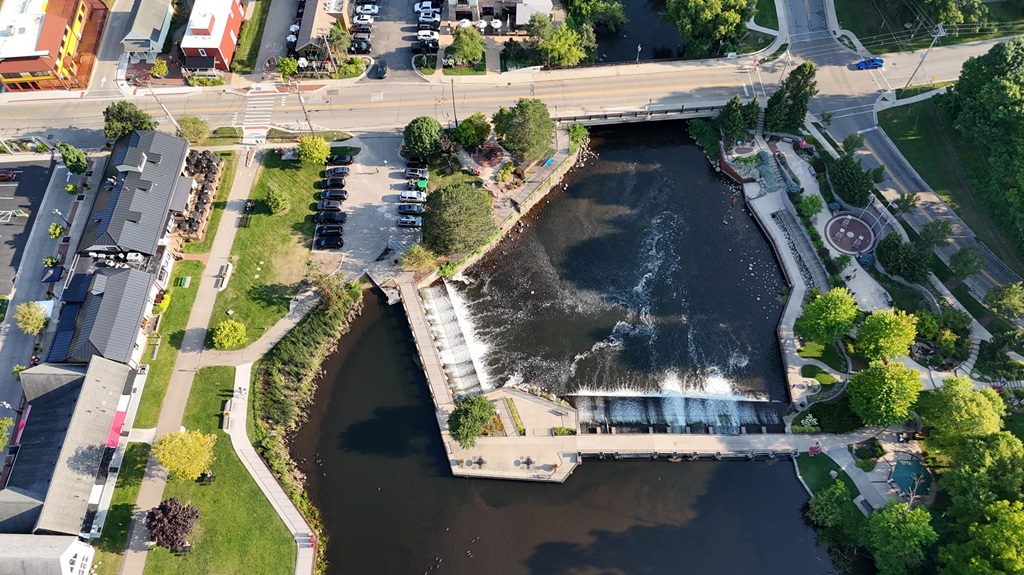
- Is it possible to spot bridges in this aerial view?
Yes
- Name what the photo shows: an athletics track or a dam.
dam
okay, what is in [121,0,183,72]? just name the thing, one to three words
house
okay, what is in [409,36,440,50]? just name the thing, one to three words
vehicle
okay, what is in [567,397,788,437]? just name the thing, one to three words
dam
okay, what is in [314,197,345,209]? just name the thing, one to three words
vehicle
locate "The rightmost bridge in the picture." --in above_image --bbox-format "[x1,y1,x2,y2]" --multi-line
[546,51,764,125]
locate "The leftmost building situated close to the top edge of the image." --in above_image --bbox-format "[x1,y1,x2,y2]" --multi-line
[0,0,88,96]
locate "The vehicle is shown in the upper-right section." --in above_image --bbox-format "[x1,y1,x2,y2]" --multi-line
[858,56,886,69]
